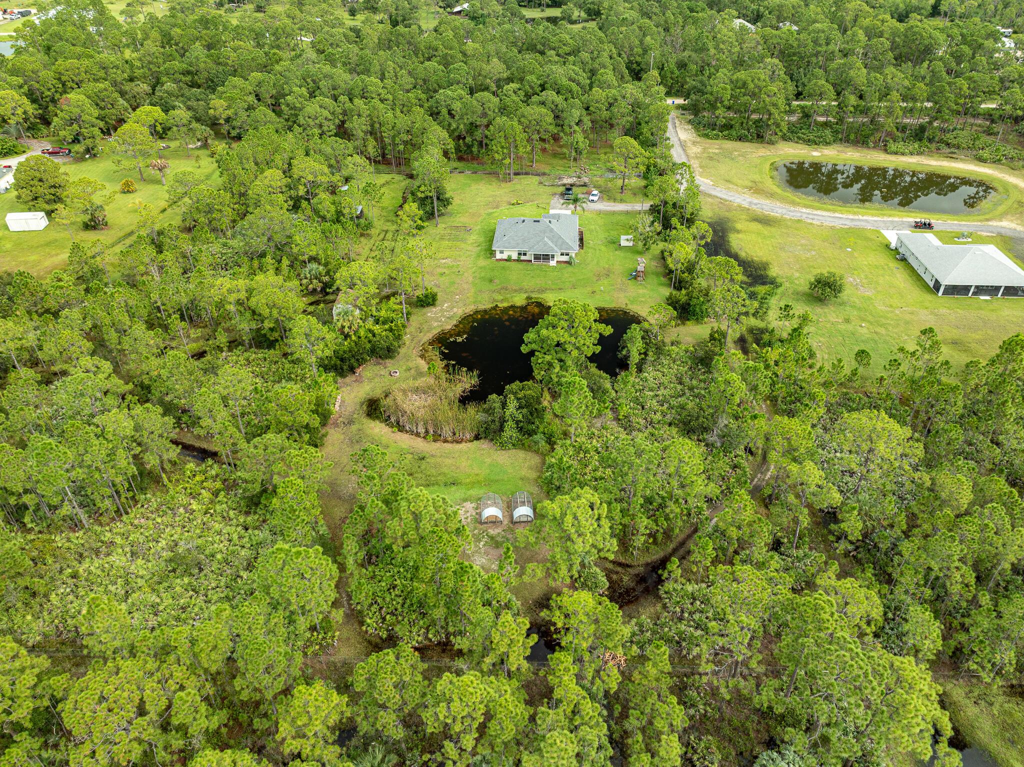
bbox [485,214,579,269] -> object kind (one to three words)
house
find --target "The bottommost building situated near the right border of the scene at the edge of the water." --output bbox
[895,232,1024,305]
